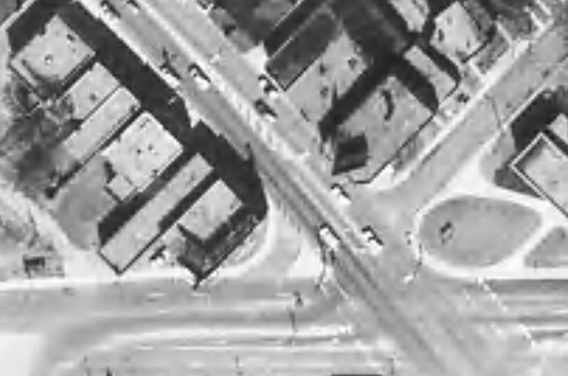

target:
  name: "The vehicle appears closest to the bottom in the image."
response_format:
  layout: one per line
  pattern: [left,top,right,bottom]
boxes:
[148,249,172,267]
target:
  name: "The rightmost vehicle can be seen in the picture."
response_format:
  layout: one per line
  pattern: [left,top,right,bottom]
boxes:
[362,227,384,249]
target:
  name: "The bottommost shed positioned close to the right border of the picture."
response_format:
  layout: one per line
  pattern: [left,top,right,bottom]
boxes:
[549,114,568,141]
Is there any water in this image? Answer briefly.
No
